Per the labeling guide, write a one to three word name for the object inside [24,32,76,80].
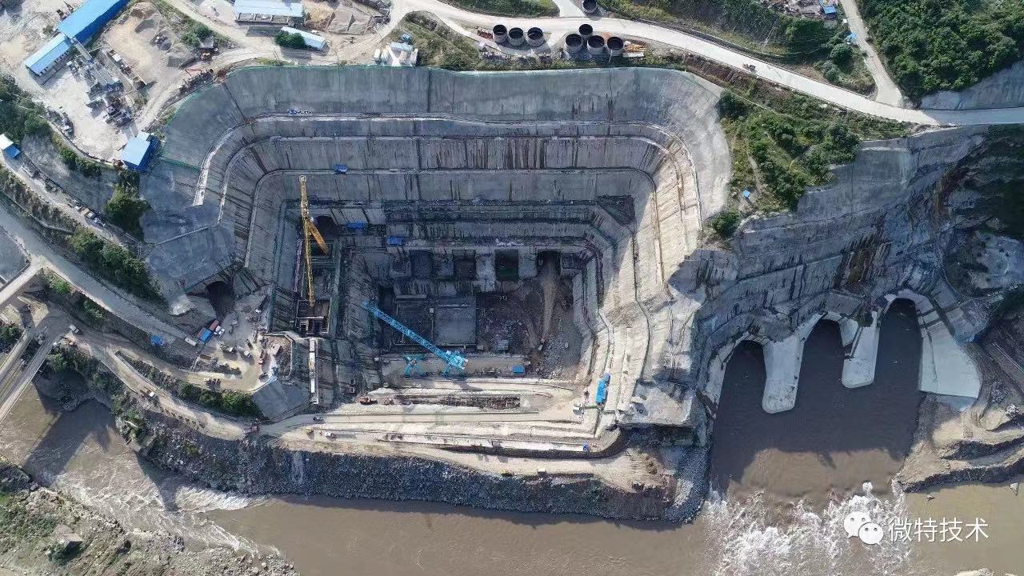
shed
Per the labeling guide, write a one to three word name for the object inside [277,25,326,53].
shed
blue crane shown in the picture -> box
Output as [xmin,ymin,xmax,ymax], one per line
[363,302,468,380]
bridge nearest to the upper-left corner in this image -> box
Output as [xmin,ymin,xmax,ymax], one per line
[0,262,47,312]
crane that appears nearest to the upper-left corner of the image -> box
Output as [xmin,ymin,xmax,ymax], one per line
[301,175,328,306]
